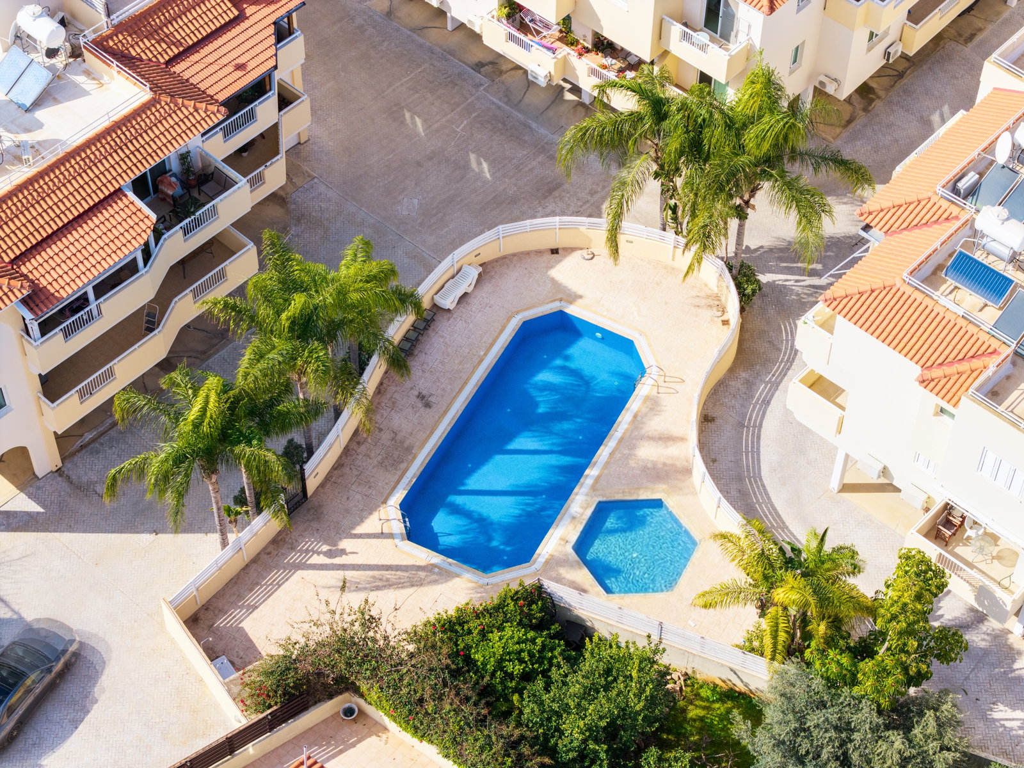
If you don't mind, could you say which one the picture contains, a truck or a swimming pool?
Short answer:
swimming pool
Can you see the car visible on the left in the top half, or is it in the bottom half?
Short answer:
bottom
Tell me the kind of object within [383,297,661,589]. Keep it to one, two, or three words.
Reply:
swimming pool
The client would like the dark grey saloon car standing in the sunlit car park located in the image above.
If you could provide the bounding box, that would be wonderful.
[0,616,79,750]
